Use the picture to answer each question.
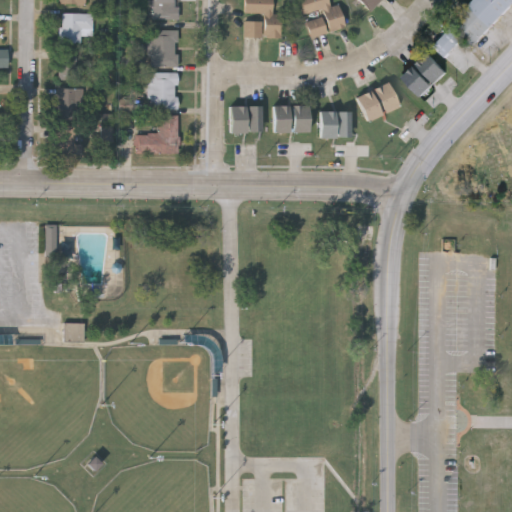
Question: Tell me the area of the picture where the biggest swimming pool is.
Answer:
left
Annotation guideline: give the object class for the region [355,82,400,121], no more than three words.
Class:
house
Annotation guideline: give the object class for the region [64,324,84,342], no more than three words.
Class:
building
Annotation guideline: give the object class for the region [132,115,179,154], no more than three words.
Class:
house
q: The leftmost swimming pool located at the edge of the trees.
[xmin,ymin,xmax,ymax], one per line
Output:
[58,226,125,300]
